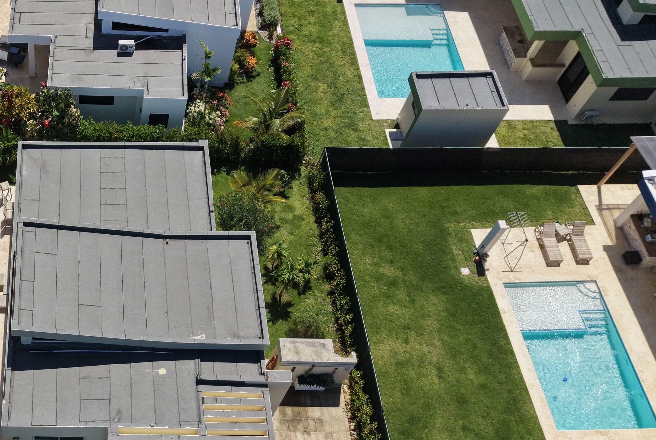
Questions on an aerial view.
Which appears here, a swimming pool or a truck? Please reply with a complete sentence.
This aerial view contains a swimming pool.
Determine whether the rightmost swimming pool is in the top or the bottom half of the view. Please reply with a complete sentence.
You can find the rightmost swimming pool in the bottom half.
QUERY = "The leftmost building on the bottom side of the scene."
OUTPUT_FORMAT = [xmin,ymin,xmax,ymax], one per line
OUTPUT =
[1,141,292,440]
